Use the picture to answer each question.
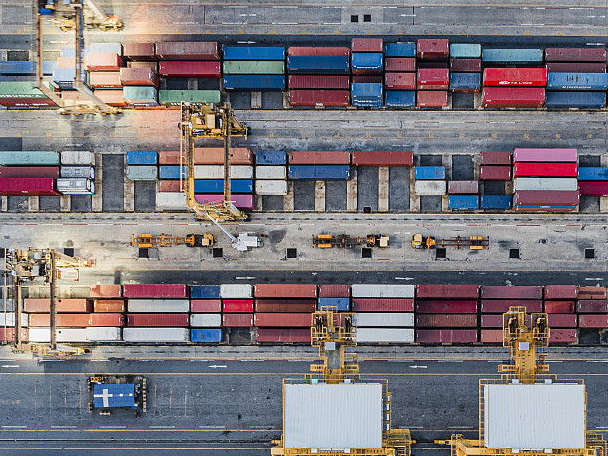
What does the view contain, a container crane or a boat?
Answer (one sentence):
Of the two, only a container crane appears.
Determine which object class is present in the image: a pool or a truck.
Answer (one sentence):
The one in the frame is a truck.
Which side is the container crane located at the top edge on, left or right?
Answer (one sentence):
It is on the left.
